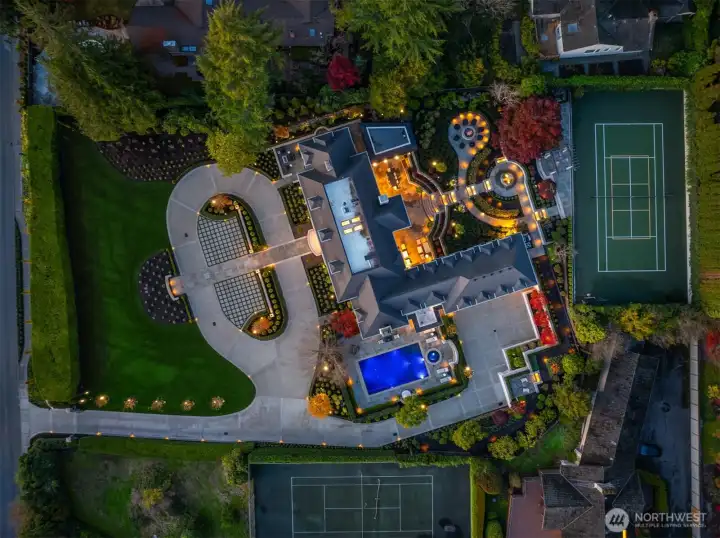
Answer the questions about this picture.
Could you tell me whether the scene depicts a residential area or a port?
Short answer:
residential area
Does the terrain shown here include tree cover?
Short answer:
Yes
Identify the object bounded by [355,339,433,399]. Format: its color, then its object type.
blue swimming pool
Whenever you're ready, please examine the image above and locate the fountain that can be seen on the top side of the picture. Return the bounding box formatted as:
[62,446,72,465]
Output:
[497,170,515,188]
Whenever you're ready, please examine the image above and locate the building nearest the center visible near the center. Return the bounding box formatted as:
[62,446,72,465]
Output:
[297,122,539,340]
